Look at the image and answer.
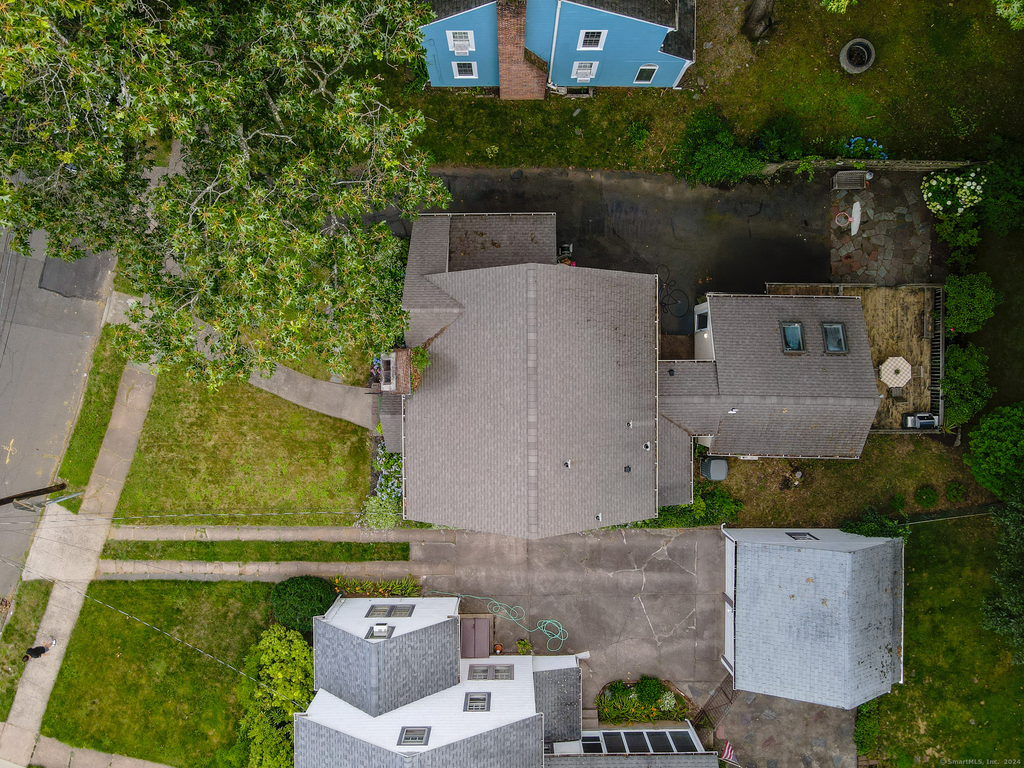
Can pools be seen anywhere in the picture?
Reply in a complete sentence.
No, there is no pool in the image.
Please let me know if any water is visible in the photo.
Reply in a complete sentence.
No, there's no water in this view.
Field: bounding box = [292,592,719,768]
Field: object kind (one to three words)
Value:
house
